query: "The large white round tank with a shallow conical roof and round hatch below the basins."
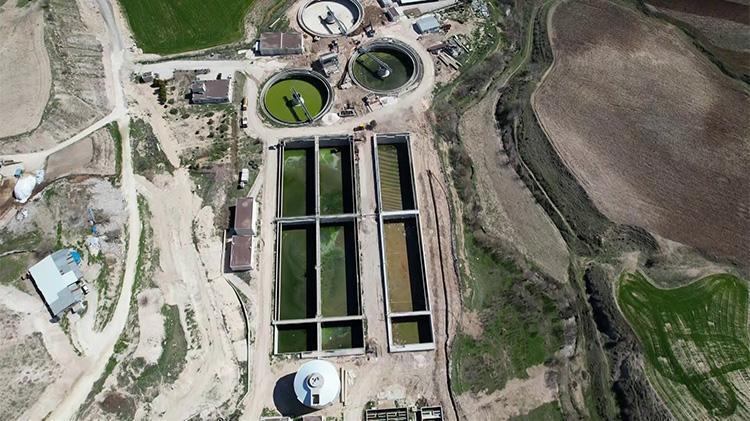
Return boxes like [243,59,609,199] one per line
[294,359,341,411]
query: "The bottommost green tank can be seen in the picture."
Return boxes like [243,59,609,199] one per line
[259,70,333,129]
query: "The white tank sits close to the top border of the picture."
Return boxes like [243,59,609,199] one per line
[297,0,364,39]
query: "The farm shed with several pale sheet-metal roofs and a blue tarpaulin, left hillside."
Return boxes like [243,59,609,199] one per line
[29,249,86,324]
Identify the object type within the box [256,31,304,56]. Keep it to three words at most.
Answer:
building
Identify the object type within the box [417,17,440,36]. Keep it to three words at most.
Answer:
building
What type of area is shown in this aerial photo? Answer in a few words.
industrial area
